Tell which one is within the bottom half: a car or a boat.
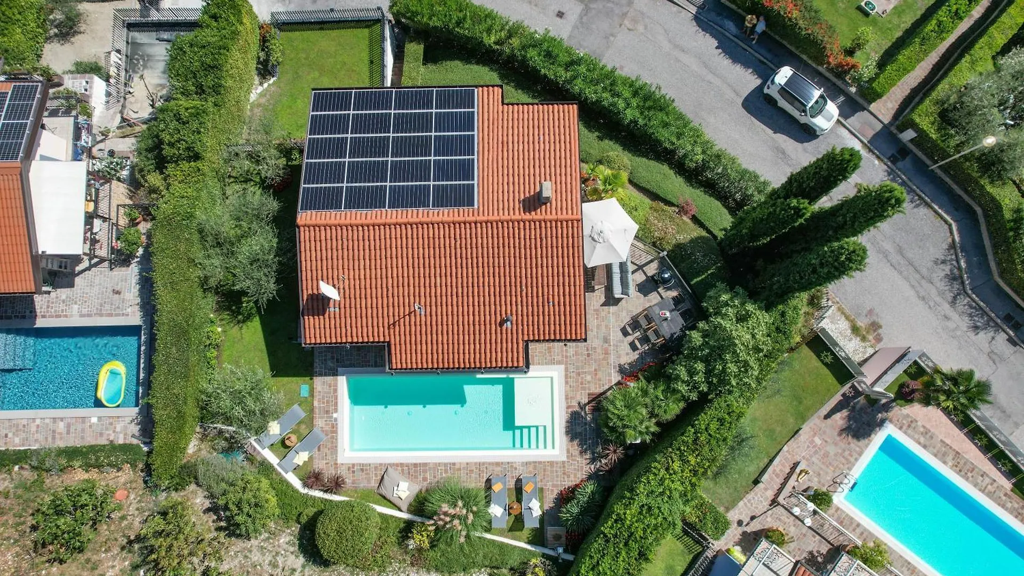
boat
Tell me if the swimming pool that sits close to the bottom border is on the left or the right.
right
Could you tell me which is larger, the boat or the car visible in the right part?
the car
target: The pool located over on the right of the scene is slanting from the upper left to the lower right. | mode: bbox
[844,434,1024,576]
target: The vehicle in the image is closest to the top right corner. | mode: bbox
[757,65,844,143]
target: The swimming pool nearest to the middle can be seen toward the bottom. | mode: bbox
[349,375,554,452]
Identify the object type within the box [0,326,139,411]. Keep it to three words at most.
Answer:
swimming pool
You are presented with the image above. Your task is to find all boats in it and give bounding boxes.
[96,360,129,407]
